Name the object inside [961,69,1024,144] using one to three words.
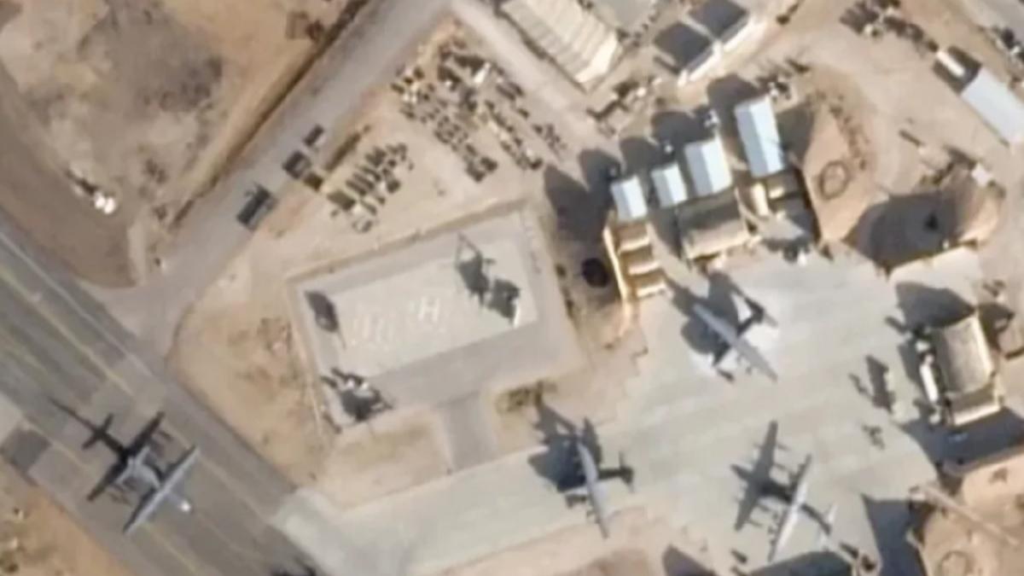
building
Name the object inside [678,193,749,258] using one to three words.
hangar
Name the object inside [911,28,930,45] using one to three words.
vehicle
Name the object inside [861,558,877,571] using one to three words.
vehicle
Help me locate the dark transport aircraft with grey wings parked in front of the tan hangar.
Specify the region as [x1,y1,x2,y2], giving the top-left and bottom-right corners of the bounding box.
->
[692,295,781,381]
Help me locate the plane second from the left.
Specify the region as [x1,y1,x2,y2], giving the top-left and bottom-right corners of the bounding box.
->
[562,432,643,541]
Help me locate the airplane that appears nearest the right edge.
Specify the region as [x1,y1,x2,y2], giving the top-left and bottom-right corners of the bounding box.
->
[759,456,840,562]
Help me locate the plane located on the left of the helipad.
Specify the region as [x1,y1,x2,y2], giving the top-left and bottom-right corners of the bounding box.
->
[113,445,199,533]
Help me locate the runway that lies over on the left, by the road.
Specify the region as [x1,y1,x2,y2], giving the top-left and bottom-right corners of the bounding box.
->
[0,216,363,576]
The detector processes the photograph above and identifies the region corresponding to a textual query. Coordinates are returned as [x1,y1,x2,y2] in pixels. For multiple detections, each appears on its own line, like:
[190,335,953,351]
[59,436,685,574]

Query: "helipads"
[295,212,583,473]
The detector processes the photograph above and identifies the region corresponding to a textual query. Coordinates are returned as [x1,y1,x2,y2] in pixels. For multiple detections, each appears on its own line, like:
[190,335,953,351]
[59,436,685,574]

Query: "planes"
[562,432,643,541]
[113,445,199,533]
[759,456,840,562]
[692,295,781,381]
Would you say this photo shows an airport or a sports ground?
airport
